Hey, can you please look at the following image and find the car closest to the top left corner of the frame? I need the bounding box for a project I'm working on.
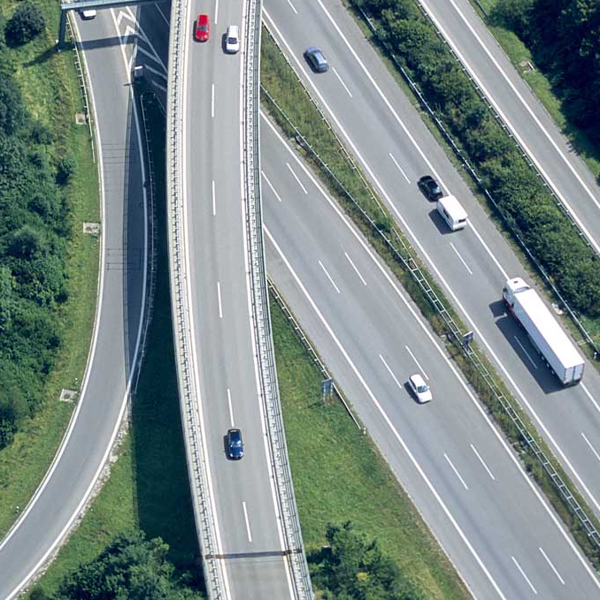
[84,6,98,18]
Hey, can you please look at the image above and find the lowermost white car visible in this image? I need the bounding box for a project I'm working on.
[407,375,431,402]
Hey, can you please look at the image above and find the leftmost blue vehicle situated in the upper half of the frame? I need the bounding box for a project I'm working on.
[306,49,328,73]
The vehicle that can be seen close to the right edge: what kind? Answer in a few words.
truck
